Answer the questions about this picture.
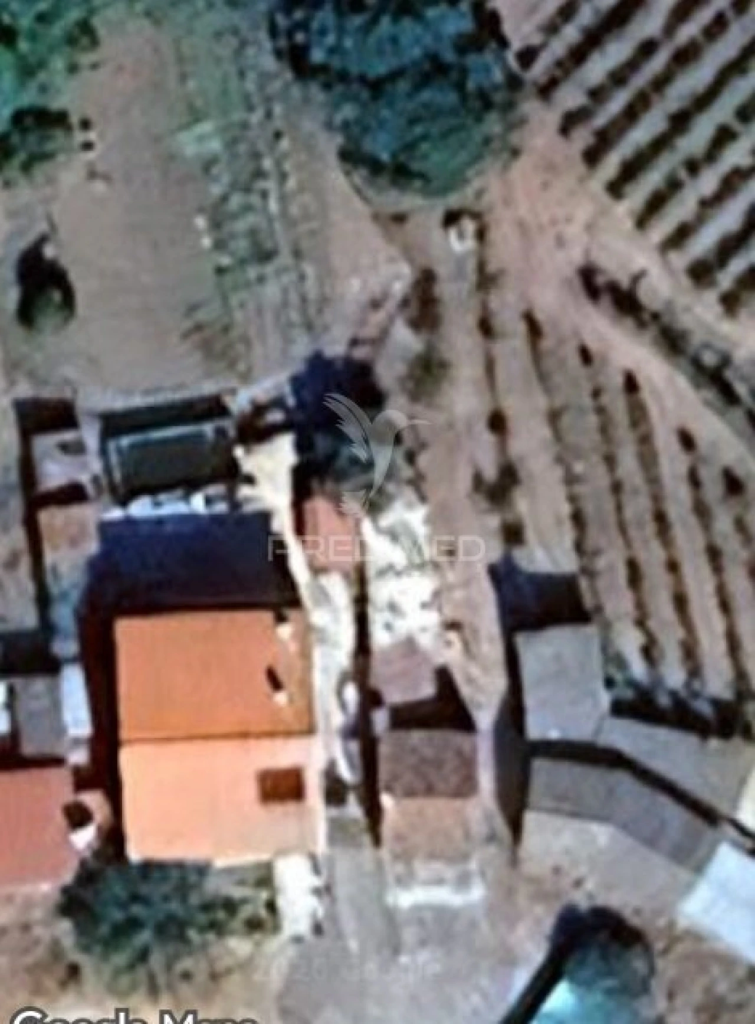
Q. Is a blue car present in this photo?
No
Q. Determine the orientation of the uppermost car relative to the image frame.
vertically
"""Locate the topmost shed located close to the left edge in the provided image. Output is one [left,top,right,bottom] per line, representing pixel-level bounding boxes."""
[32,431,99,491]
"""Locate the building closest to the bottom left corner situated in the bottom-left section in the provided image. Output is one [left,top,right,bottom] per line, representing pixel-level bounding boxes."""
[0,768,94,896]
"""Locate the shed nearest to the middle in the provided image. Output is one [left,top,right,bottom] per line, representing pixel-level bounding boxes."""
[304,497,360,571]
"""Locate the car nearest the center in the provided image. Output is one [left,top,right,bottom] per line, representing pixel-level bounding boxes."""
[333,676,362,732]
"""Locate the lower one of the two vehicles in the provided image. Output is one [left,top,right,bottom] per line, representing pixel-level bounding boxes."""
[333,732,362,784]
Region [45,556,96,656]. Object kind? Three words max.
shed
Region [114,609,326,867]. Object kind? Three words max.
house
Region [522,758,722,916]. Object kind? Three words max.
barn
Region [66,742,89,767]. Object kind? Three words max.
shed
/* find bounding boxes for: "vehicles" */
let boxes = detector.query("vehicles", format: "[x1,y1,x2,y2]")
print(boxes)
[333,676,362,732]
[333,732,362,784]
